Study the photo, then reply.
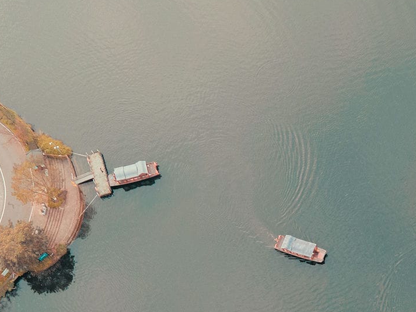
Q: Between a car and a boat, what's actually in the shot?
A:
boat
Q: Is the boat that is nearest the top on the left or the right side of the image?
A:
left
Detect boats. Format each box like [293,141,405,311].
[107,158,159,184]
[273,232,327,261]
